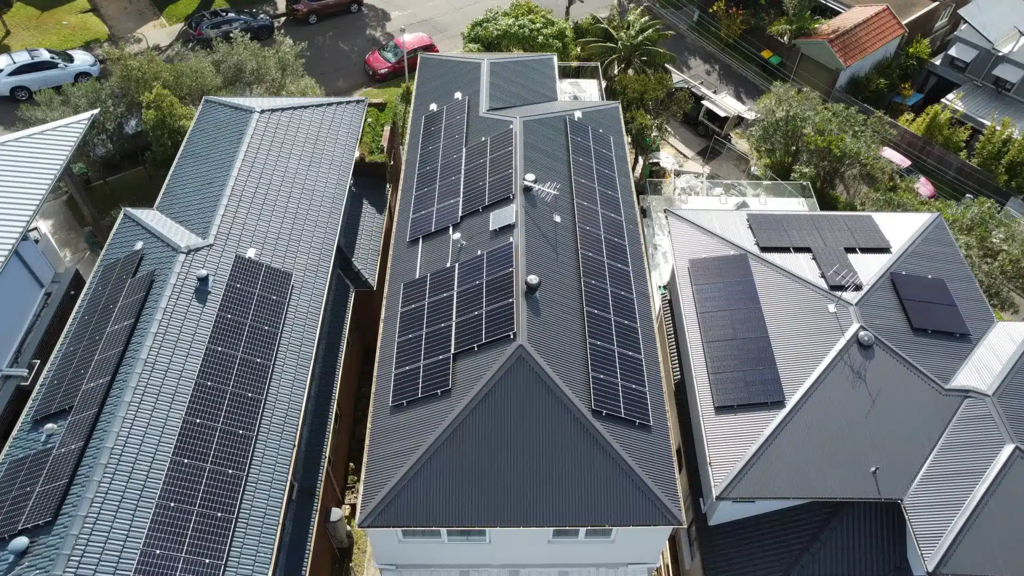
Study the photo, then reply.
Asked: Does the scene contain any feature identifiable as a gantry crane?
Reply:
No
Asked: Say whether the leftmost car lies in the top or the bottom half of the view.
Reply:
top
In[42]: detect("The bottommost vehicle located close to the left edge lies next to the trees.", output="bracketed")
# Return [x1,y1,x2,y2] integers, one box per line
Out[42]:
[0,41,103,102]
